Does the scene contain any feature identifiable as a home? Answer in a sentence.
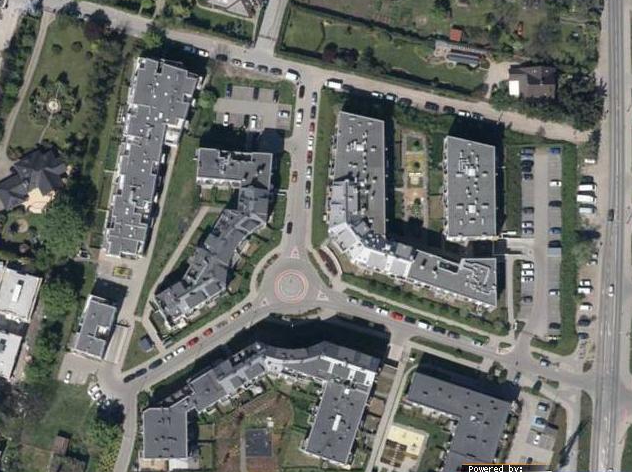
Yes, looking at the shot, I can spot a home.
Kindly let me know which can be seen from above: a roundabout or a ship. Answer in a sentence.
I can see a roundabout in this picture.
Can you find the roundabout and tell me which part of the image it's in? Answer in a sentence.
The roundabout appears toward the center of the photo.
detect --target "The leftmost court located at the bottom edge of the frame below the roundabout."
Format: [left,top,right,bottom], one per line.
[245,427,271,457]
